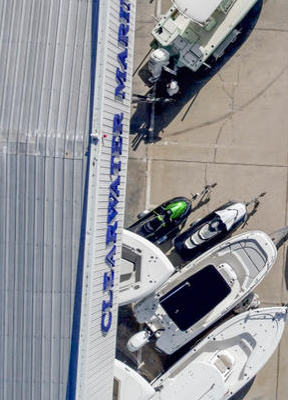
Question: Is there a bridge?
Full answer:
No, the frame has no bridge in it.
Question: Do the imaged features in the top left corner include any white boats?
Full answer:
No, I can find no white boat in the top left corner.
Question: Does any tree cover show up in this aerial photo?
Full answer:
No, there is no tree cover in the image.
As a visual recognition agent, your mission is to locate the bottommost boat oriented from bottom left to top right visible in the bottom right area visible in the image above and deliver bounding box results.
[155,304,288,400]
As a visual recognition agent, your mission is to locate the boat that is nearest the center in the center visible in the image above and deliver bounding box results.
[130,197,195,242]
